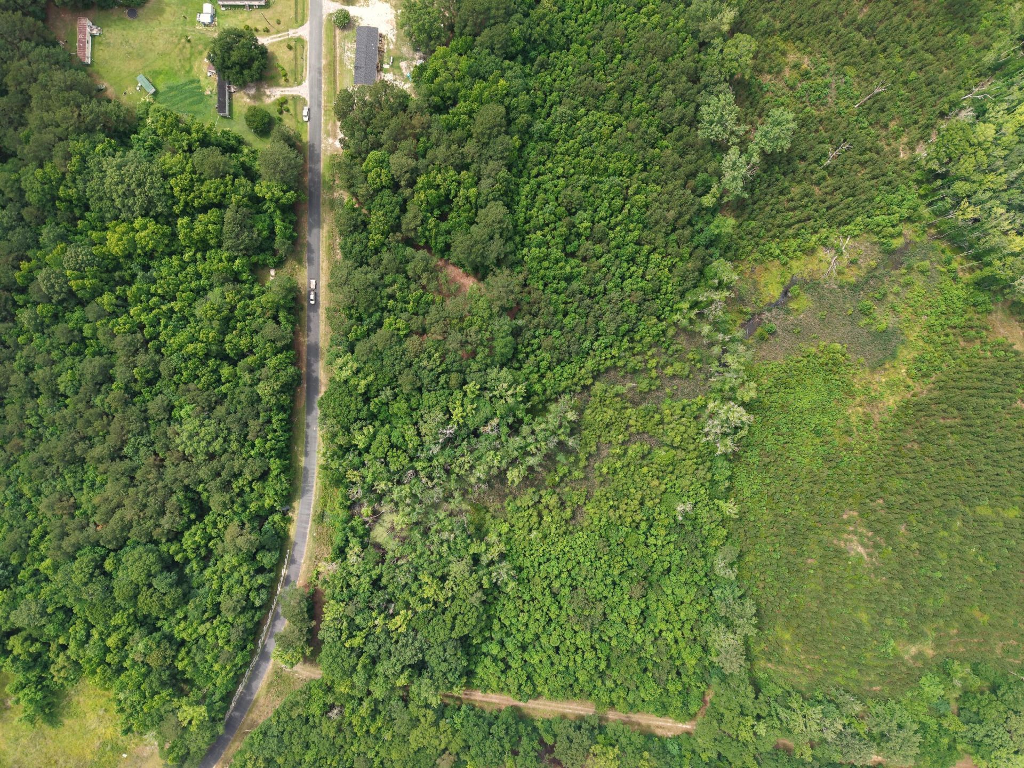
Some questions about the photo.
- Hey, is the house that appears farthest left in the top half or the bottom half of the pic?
top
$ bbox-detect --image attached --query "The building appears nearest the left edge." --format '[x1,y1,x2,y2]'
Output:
[77,17,103,65]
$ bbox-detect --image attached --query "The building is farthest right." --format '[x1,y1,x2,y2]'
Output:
[354,25,385,88]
